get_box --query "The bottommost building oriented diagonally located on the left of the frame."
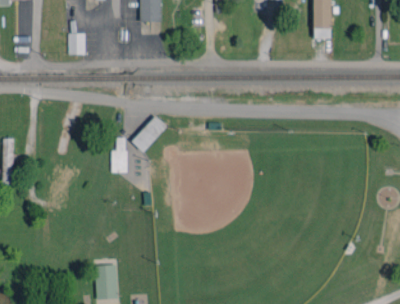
[132,116,166,152]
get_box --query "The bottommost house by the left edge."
[0,138,14,184]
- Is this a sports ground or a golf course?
sports ground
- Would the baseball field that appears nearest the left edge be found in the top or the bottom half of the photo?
bottom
